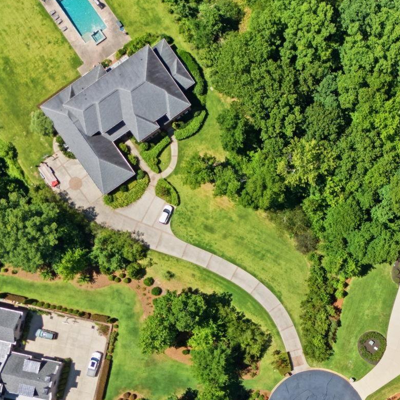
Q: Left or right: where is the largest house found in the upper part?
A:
left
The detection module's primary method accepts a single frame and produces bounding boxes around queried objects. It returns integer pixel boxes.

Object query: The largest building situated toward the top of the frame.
[40,38,195,195]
